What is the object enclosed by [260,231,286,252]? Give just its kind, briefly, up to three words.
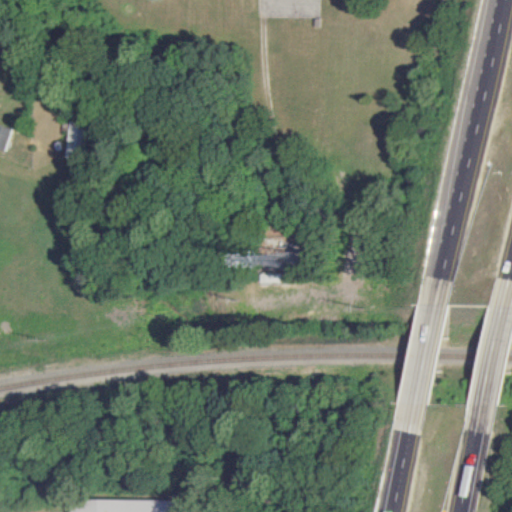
shed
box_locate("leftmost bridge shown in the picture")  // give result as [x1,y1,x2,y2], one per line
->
[394,277,453,436]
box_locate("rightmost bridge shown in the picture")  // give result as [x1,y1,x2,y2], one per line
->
[464,278,512,435]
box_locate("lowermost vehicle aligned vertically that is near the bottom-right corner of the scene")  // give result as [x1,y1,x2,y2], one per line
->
[459,452,474,498]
